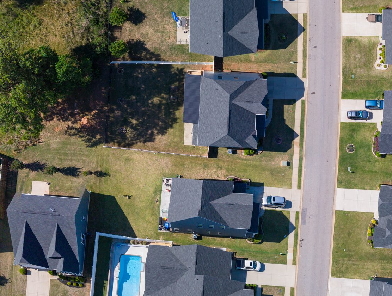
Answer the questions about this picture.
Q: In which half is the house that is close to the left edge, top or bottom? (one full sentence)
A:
Seen from above, the house that is close to the left edge lies in the bottom half of the view.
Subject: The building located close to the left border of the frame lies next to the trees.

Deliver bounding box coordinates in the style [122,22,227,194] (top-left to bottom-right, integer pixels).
[5,187,90,282]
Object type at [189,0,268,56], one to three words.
house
